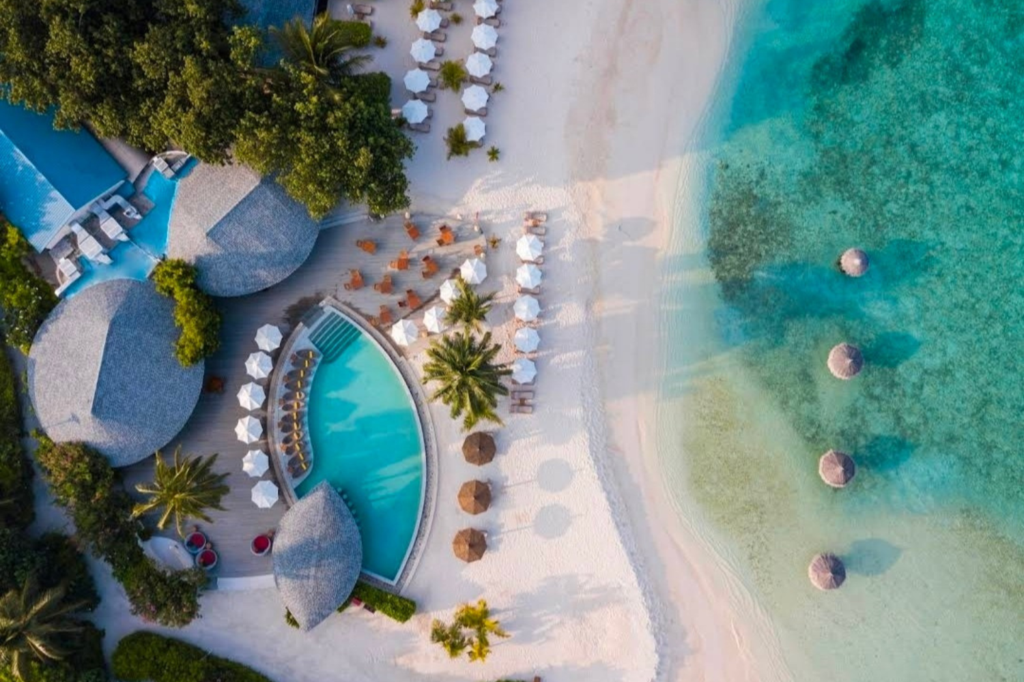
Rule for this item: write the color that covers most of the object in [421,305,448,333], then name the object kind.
white umbrella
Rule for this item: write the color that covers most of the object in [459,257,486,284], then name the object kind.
white umbrella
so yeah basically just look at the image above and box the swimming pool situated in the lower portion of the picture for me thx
[267,297,439,589]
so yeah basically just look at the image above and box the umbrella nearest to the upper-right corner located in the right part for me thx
[837,247,867,277]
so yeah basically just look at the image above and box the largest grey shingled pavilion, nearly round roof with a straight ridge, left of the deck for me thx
[27,279,205,468]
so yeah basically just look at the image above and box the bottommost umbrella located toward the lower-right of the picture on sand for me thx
[808,553,843,589]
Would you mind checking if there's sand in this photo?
Yes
